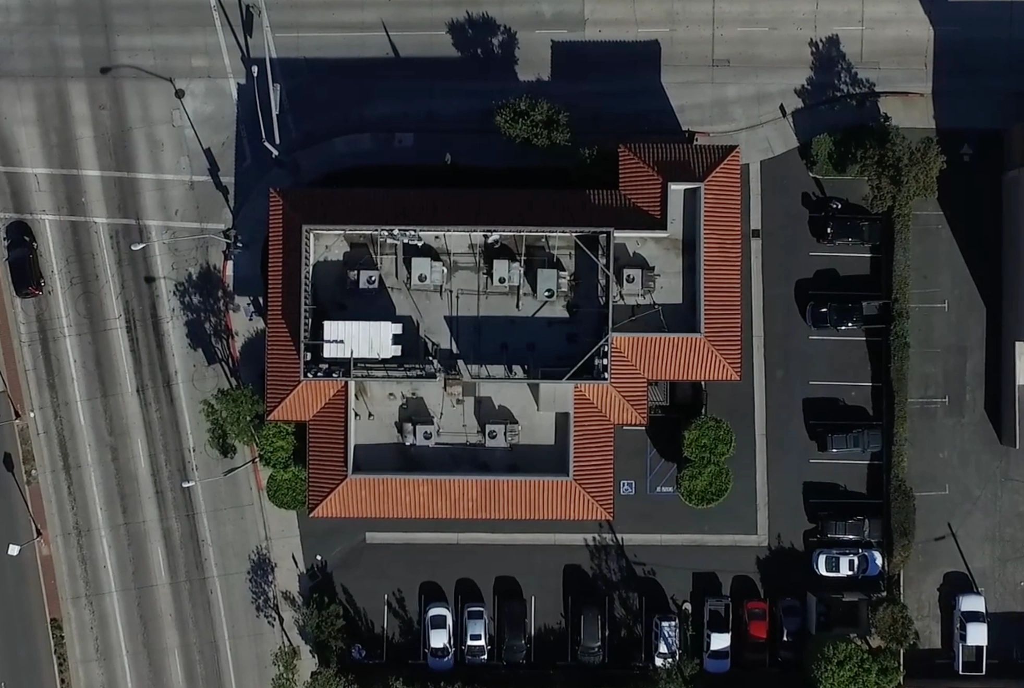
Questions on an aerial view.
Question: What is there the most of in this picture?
paved ground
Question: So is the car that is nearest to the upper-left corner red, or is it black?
black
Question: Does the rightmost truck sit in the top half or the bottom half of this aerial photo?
bottom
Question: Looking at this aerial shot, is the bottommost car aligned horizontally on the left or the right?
right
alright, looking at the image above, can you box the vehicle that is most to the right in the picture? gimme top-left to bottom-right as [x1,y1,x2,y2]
[951,589,992,675]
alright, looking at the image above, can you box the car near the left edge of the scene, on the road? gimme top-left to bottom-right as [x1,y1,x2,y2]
[5,230,48,300]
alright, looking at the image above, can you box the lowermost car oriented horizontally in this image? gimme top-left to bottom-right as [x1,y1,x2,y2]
[809,546,881,580]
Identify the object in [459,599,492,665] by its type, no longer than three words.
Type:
car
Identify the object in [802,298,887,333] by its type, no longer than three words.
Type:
truck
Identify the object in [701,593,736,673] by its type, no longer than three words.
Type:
truck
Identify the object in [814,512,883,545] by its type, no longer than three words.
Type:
car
